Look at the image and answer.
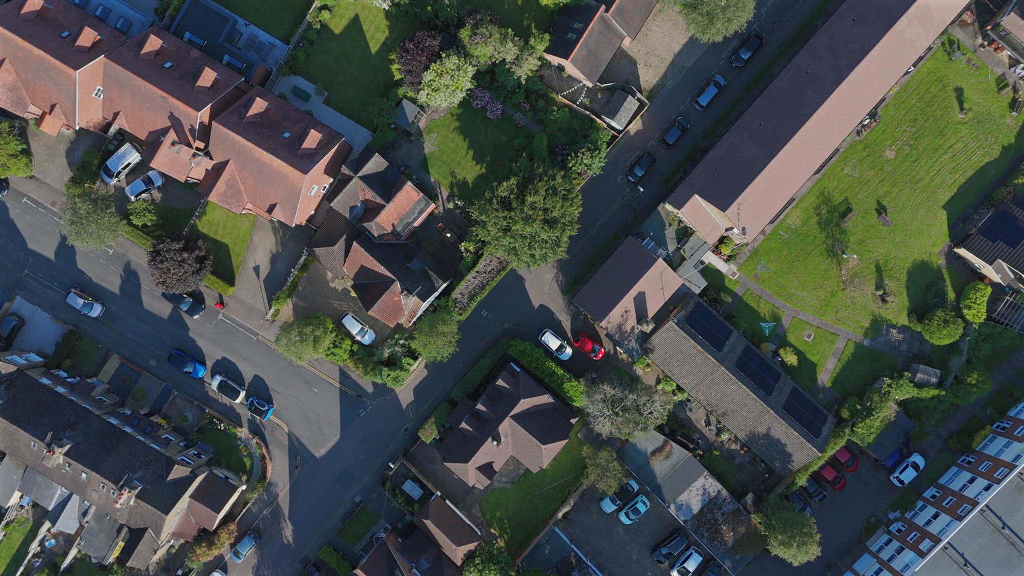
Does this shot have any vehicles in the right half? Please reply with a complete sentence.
Yes, looking in the right half, one can make out a vehicle.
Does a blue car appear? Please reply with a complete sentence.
Yes, looking at the shot, I can spot a blue car.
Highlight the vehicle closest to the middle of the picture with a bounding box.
[538,327,572,361]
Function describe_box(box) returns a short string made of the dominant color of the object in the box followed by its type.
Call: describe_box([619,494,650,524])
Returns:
blue car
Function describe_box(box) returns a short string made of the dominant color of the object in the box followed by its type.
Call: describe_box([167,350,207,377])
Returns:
blue car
